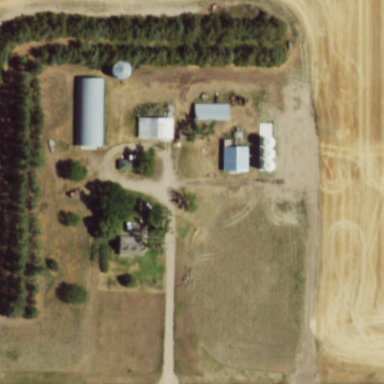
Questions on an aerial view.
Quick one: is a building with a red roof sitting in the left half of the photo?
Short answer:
No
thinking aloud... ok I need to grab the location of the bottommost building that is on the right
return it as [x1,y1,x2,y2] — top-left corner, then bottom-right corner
[223,146,249,174]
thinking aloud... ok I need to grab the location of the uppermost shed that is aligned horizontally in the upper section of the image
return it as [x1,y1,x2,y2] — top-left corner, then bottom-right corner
[194,103,230,120]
